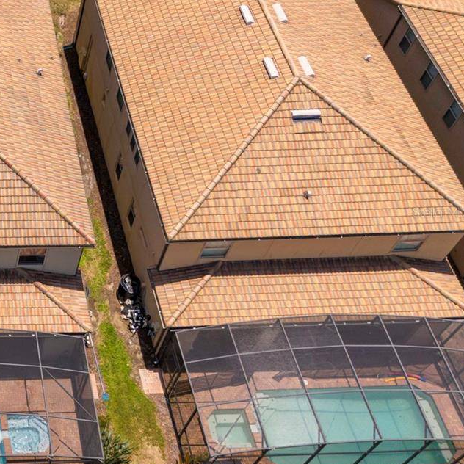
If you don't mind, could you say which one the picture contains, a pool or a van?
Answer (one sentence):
Looking from above, you can make out a pool.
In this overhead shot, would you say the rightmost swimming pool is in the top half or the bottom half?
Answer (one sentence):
It is in the bottom half that the rightmost swimming pool appears.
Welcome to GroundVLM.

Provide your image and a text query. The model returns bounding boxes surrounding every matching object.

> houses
[0,0,98,354]
[59,0,464,348]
